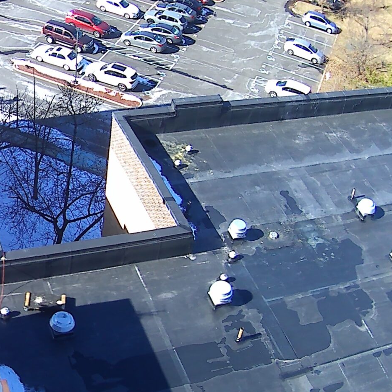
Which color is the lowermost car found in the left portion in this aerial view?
white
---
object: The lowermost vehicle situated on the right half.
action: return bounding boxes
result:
[265,79,313,96]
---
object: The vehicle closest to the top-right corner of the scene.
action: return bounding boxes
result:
[301,8,337,34]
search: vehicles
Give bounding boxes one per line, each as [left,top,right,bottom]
[301,8,337,34]
[133,21,182,44]
[283,36,325,64]
[143,5,191,29]
[64,7,113,38]
[265,79,313,96]
[96,0,139,19]
[84,60,140,90]
[153,0,199,19]
[30,44,86,71]
[117,28,169,53]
